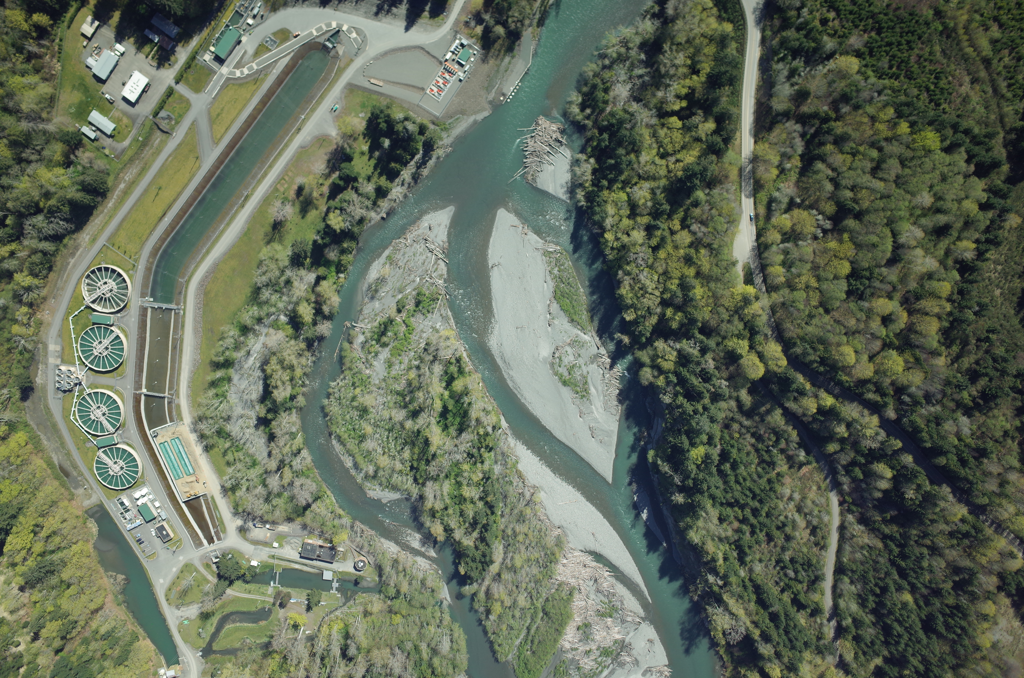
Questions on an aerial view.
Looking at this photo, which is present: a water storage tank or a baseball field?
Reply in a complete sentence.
The image shows a water storage tank.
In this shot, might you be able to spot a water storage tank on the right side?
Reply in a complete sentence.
No, no water storage tank appears on the right side.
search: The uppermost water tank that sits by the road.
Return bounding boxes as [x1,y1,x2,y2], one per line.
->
[81,264,133,312]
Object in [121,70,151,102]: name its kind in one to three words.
building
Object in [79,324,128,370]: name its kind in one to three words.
water tank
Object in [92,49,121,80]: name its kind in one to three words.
building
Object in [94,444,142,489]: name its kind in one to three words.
water tank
